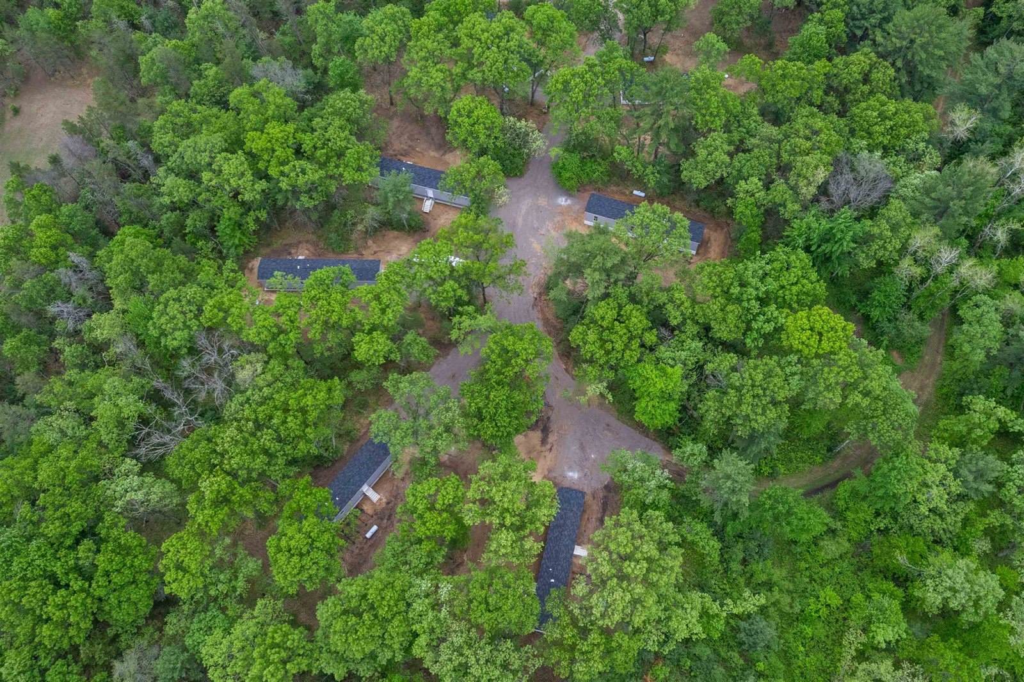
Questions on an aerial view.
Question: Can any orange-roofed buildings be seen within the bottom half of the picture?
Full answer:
No, I see no orange-roofed building within the bottom half of the picture.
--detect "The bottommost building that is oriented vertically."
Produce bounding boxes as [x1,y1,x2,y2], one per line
[526,486,585,637]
